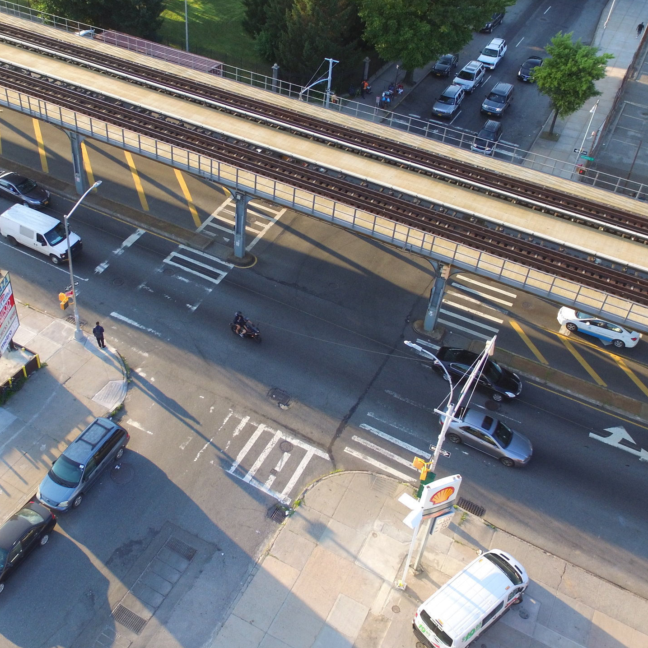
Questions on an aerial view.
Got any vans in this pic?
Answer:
Yes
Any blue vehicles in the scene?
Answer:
Yes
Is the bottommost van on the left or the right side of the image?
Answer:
right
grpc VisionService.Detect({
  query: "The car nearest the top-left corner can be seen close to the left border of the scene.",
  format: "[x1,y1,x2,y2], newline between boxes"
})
[0,170,51,208]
